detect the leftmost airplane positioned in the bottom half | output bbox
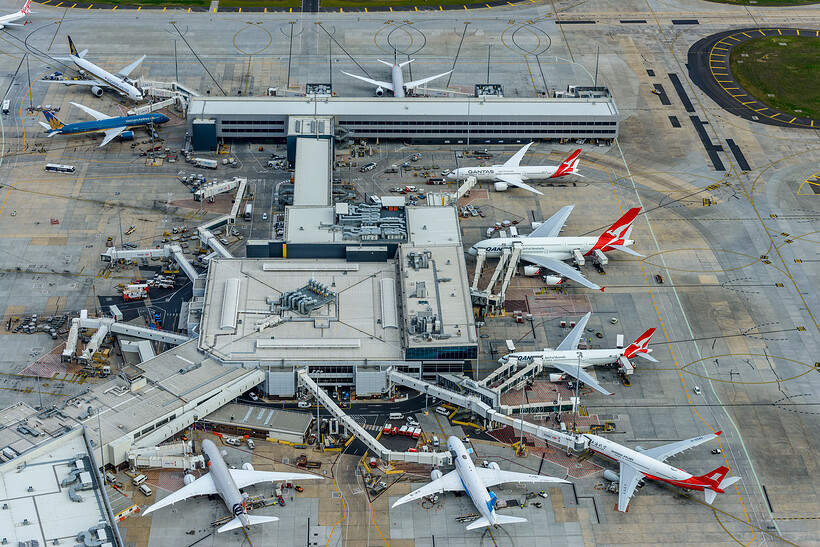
[144,443,324,536]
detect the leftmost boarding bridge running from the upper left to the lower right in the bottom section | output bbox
[299,372,457,477]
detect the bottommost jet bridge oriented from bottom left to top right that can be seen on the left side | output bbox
[78,321,110,365]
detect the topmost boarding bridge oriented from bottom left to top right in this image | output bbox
[427,175,477,210]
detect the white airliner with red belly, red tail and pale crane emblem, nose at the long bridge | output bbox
[585,432,745,515]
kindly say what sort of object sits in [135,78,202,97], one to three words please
jet bridge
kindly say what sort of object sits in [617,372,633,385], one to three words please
vehicle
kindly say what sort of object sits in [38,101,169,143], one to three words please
airplane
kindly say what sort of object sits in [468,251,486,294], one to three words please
jet bridge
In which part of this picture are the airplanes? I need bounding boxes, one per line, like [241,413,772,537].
[394,438,572,531]
[471,200,650,288]
[144,443,324,536]
[448,141,587,193]
[585,432,745,515]
[0,0,42,33]
[38,33,145,101]
[38,101,169,143]
[500,309,661,393]
[341,41,453,96]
